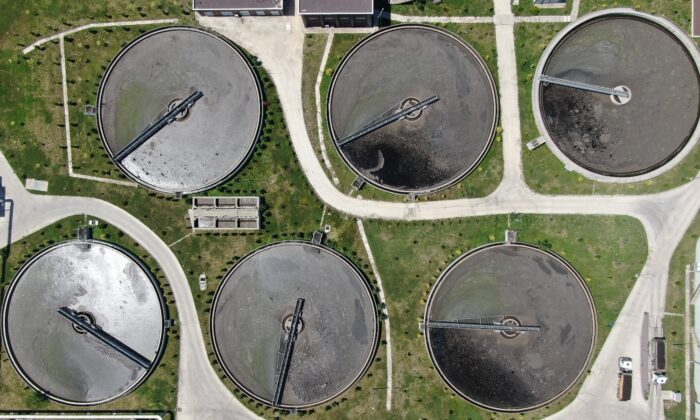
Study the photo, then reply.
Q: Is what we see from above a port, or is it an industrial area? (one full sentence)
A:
The picture captures an industrial area.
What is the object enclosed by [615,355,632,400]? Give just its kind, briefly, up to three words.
vehicle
